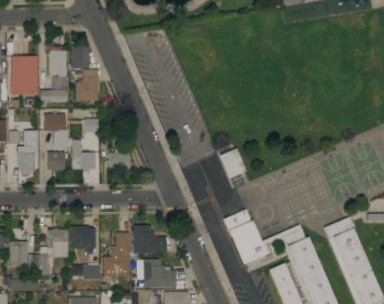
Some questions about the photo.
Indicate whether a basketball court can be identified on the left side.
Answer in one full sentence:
No, no basketball court can be made out on the left side.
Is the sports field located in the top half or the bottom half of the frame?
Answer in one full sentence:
The sports field is in the top half of the image.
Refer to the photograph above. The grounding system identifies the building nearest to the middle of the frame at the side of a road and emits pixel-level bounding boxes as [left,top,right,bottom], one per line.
[220,148,246,178]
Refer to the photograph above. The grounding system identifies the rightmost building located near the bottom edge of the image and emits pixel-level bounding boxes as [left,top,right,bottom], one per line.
[326,217,384,304]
